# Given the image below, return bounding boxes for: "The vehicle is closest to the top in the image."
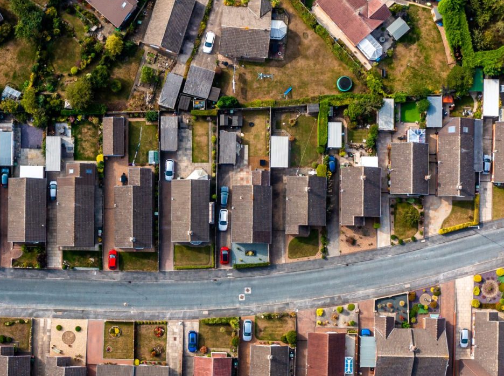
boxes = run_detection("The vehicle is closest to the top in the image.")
[203,31,215,54]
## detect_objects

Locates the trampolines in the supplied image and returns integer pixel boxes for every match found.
[337,74,354,92]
